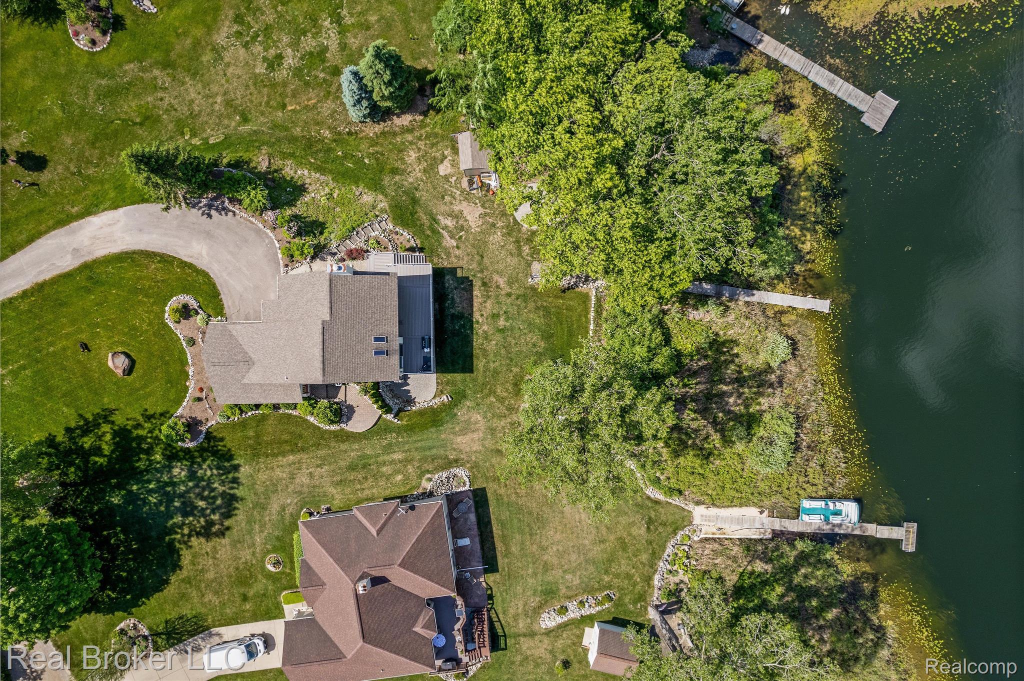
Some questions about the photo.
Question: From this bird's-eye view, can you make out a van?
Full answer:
Yes, a van appears in the view.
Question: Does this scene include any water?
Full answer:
Yes, water shows up in the scene.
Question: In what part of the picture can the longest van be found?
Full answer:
The longest van appears toward the bottom left of the photo.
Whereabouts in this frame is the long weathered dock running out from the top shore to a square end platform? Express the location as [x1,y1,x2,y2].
[722,10,901,134]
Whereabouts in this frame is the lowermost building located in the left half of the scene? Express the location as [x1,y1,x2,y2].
[281,494,457,681]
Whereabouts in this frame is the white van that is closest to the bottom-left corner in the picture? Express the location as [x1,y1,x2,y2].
[202,634,267,678]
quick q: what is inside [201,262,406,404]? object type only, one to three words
house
